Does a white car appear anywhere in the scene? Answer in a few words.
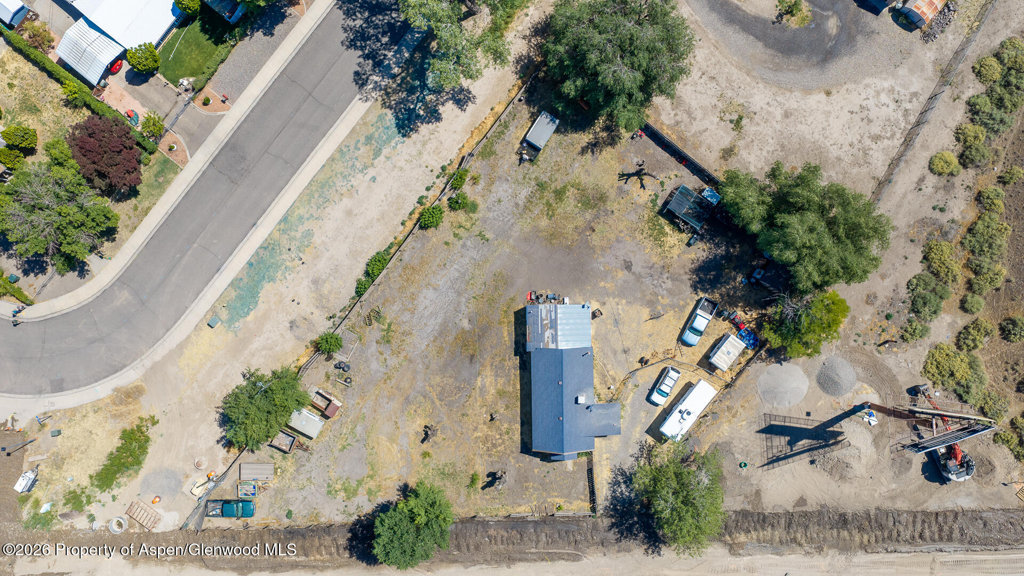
Yes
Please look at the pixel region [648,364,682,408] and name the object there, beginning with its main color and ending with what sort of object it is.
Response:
white car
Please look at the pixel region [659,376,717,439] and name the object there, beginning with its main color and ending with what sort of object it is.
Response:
white vehicle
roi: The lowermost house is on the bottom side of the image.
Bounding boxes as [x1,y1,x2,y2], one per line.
[526,303,620,460]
